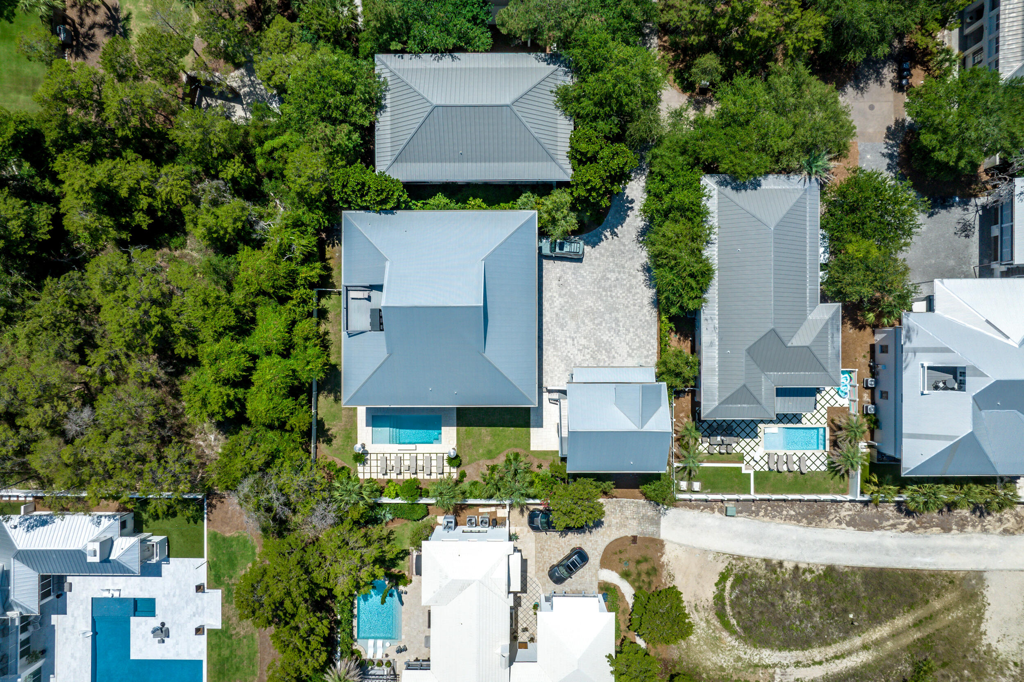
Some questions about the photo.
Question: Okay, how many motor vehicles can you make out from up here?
3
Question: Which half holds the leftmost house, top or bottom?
bottom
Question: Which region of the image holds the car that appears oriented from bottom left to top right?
bottom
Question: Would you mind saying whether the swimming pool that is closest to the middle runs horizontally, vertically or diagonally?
horizontally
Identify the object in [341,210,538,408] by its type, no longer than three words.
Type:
house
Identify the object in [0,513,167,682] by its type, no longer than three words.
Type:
house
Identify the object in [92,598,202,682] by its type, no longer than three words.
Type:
swimming pool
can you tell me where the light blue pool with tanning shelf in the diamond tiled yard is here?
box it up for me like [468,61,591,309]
[764,428,826,450]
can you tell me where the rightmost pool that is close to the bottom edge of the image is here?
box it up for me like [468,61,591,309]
[357,576,402,654]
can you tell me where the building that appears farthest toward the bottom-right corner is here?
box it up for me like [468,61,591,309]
[873,278,1024,477]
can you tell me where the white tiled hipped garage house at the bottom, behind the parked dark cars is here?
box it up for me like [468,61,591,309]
[511,591,616,682]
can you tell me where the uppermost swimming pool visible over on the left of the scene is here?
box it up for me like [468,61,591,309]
[372,415,442,444]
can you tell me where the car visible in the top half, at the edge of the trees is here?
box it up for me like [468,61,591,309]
[539,237,584,258]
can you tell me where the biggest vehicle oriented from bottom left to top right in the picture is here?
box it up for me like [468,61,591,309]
[547,549,592,586]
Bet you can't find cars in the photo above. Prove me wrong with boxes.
[539,237,584,258]
[531,512,578,535]
[547,549,592,586]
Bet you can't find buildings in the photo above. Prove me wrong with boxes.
[873,278,1024,477]
[958,0,1024,96]
[341,210,538,408]
[0,513,167,682]
[402,524,521,682]
[511,591,616,682]
[544,365,673,474]
[689,173,842,420]
[374,52,573,191]
[973,177,1024,278]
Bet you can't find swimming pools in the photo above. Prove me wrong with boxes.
[372,415,442,444]
[92,598,202,682]
[357,576,402,654]
[764,428,826,450]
